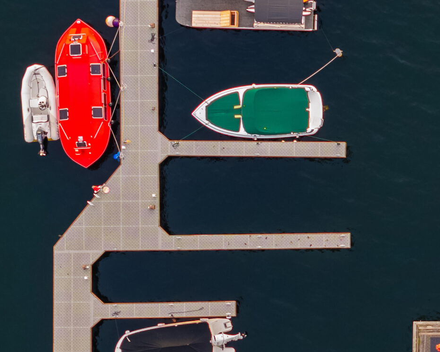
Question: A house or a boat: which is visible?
boat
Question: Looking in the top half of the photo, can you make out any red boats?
Yes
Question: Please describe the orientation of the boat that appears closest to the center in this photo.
horizontally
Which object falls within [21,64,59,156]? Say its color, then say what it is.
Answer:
white boat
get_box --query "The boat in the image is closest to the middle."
[192,83,324,137]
